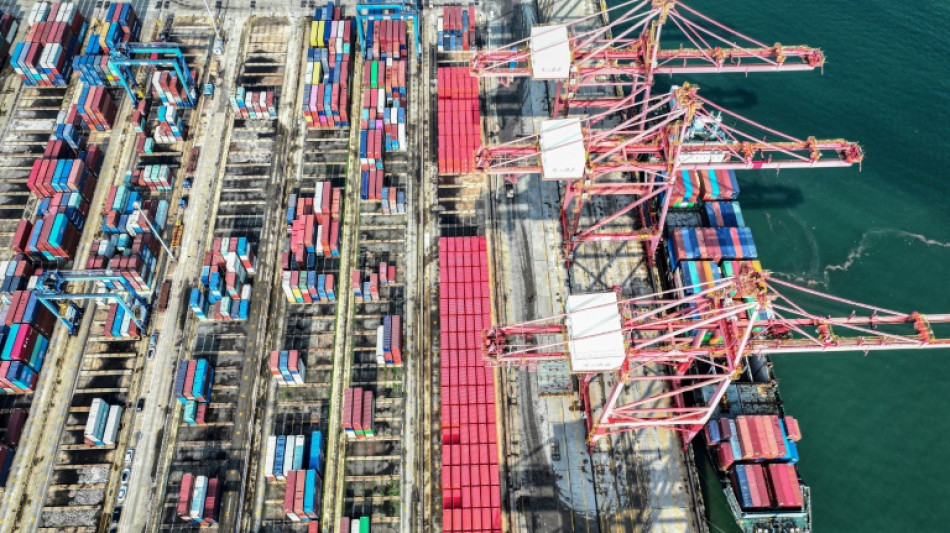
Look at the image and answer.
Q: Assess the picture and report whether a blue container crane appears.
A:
Yes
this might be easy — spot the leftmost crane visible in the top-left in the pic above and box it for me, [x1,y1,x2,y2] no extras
[107,43,198,110]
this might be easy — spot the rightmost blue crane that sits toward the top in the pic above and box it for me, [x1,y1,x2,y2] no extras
[354,0,419,65]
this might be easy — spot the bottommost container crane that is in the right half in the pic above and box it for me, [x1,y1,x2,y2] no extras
[486,271,950,449]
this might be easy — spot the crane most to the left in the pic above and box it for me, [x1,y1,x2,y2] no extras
[31,270,151,339]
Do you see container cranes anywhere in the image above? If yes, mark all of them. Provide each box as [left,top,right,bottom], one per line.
[31,270,151,339]
[470,0,832,169]
[354,0,419,65]
[486,271,950,449]
[476,77,873,264]
[107,43,198,110]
